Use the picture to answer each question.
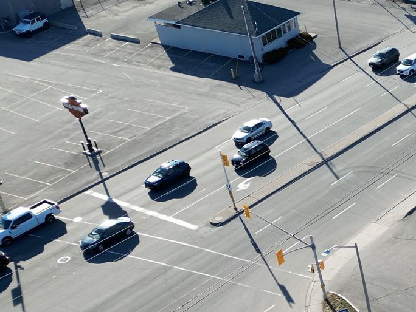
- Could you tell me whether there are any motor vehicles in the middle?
Yes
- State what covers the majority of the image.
paved ground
